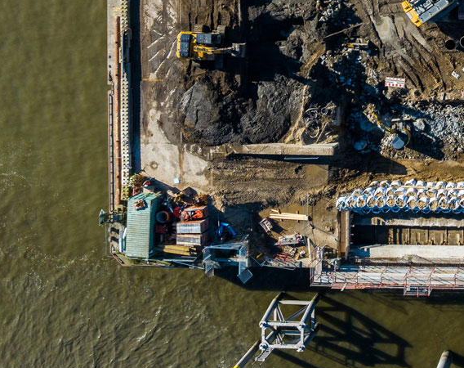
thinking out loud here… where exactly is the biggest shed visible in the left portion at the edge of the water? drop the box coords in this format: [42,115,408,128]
[124,191,165,258]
